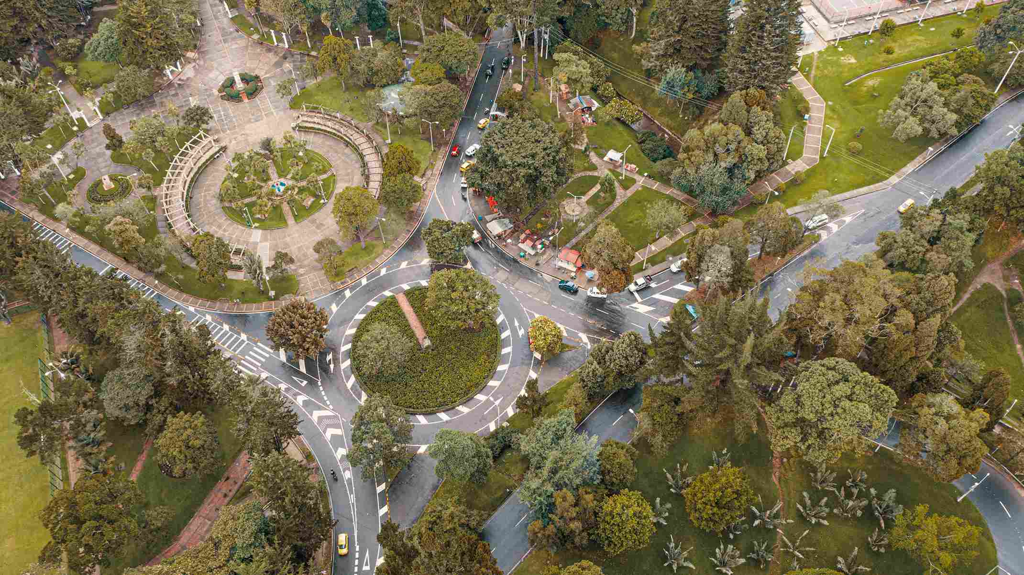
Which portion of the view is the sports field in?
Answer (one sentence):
The sports field sits in the bottom left section of the image.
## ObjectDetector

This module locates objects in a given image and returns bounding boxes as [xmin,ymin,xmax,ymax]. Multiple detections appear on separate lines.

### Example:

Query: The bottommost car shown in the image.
[335,532,349,559]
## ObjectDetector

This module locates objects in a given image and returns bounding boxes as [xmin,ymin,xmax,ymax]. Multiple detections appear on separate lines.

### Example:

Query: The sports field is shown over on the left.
[0,313,52,575]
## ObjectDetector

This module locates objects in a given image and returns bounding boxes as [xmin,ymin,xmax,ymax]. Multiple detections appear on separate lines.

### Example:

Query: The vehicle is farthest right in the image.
[898,198,915,213]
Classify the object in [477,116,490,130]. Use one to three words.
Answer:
vehicle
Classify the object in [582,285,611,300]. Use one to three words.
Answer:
vehicle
